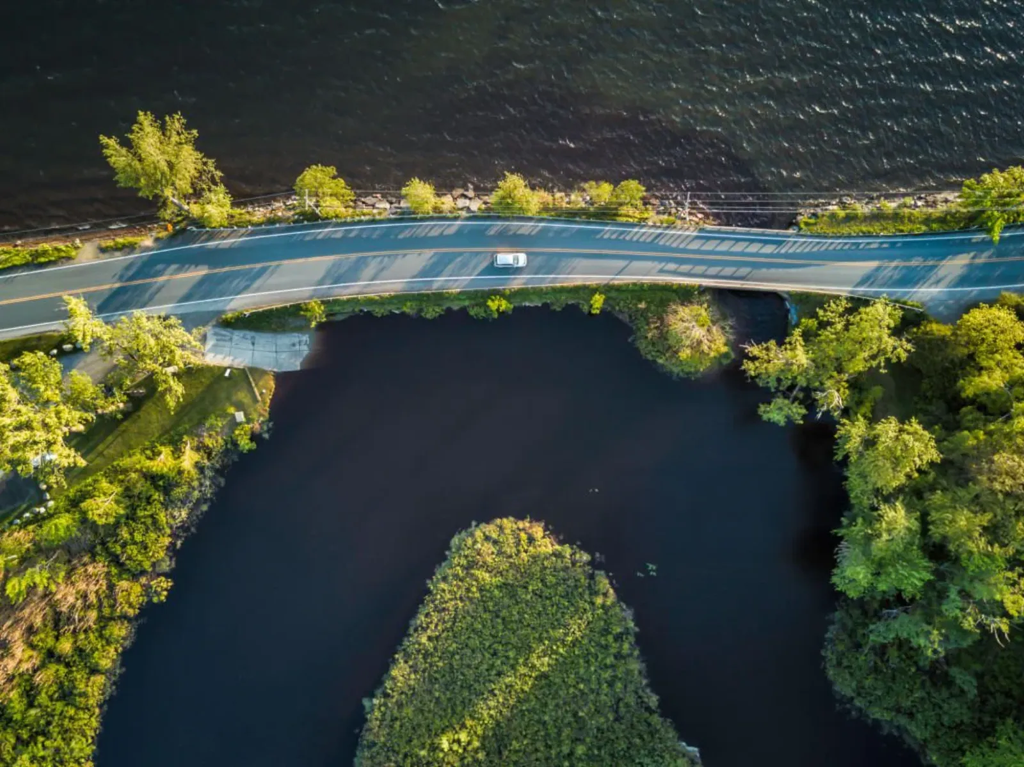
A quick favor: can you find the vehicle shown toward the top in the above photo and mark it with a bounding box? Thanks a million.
[493,251,527,267]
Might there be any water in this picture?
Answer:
Yes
